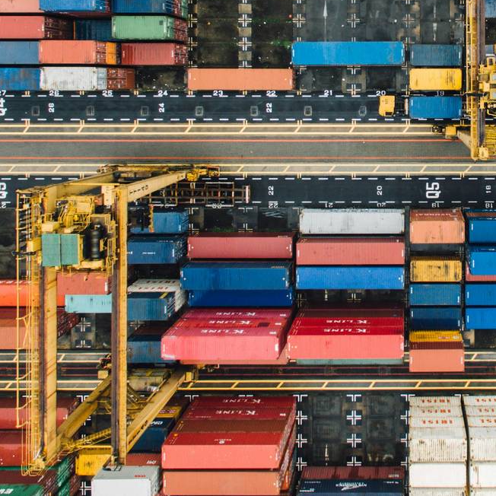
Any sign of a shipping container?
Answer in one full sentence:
Yes, this view includes a shipping container.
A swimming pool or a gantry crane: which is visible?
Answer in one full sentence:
It is a gantry crane that can be seen here.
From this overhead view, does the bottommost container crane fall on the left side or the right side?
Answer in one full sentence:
It is on the left.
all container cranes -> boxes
[1,157,219,477]
[428,0,496,171]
